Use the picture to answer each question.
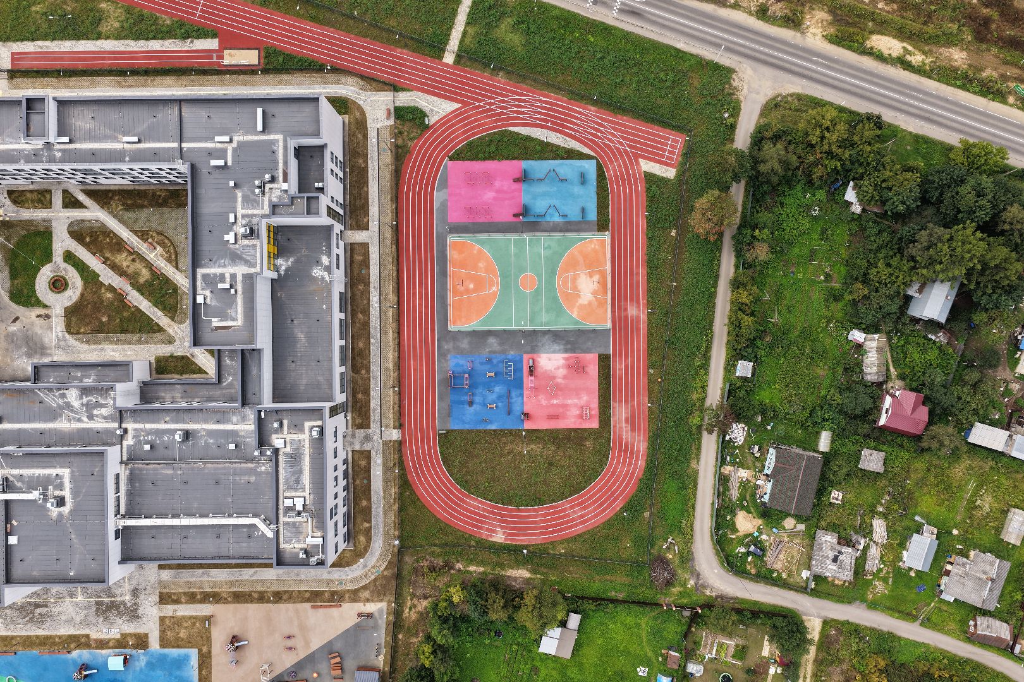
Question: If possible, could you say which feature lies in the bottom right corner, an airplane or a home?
home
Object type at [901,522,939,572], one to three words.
house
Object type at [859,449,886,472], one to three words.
shed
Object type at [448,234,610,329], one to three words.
basketball court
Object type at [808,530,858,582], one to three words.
house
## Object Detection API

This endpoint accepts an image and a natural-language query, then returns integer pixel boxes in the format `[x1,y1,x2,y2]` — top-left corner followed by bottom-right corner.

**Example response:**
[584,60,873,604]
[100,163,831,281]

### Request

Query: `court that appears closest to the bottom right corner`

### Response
[524,354,598,428]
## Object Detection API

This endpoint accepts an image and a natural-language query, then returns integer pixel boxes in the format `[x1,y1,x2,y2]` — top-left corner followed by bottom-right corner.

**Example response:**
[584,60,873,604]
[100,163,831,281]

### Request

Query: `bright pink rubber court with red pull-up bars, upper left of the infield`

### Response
[448,160,522,222]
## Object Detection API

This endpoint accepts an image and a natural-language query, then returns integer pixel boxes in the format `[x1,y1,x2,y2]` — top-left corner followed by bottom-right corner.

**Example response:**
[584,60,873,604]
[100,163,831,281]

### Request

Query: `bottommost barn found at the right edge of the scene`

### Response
[967,613,1013,648]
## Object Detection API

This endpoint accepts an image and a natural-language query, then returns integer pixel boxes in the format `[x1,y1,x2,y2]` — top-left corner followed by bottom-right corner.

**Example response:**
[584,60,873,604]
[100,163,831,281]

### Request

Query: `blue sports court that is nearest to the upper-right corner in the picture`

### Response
[522,160,597,221]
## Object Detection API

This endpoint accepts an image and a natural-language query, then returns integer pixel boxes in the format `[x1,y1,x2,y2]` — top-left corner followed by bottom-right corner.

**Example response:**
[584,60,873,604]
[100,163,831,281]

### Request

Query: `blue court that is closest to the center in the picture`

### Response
[450,354,524,429]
